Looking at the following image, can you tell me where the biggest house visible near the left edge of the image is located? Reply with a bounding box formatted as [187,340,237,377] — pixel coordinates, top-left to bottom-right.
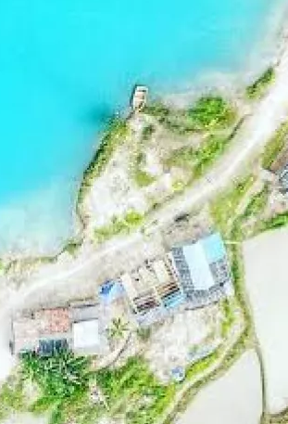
[13,305,70,356]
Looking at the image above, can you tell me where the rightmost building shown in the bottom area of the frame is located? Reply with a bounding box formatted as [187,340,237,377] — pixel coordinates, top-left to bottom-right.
[170,233,234,301]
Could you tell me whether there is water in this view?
Yes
